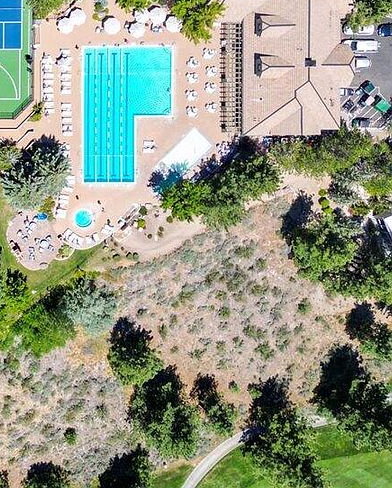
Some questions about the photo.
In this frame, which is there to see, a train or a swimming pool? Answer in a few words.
swimming pool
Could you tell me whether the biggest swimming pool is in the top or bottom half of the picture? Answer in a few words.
top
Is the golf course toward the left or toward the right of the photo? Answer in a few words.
right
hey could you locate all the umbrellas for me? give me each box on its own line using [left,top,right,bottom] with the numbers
[163,18,178,34]
[102,18,120,36]
[149,7,166,24]
[128,22,144,38]
[94,0,107,8]
[55,18,73,35]
[68,8,85,26]
[132,7,149,24]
